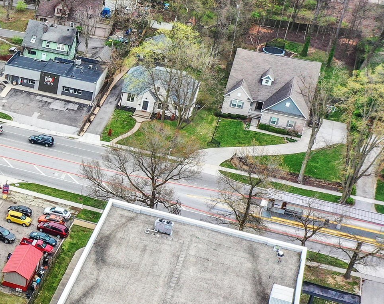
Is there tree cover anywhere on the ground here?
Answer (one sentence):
Yes, some tree cover is visible.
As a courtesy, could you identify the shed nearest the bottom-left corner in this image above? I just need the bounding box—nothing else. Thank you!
[1,243,44,290]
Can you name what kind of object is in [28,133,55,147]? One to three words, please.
car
